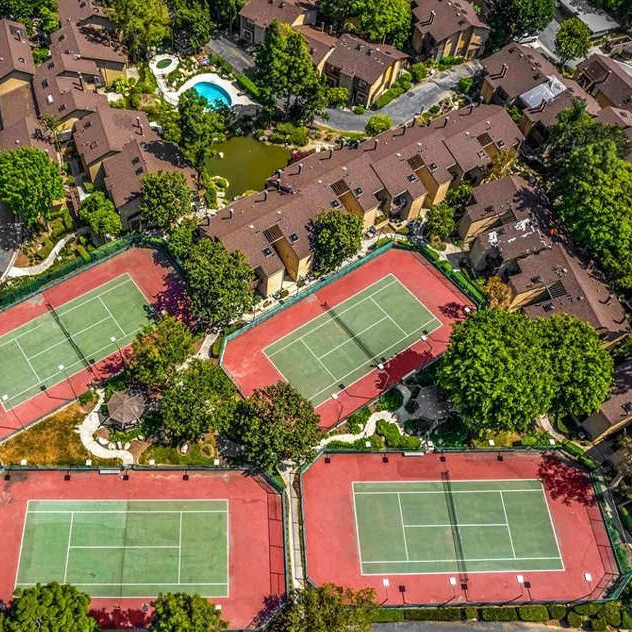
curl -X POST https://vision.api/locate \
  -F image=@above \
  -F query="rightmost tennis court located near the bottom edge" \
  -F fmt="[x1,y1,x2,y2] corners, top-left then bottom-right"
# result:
[297,451,623,609]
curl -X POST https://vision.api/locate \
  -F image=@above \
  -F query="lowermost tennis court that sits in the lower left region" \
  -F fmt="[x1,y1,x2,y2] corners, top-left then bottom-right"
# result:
[0,470,287,632]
